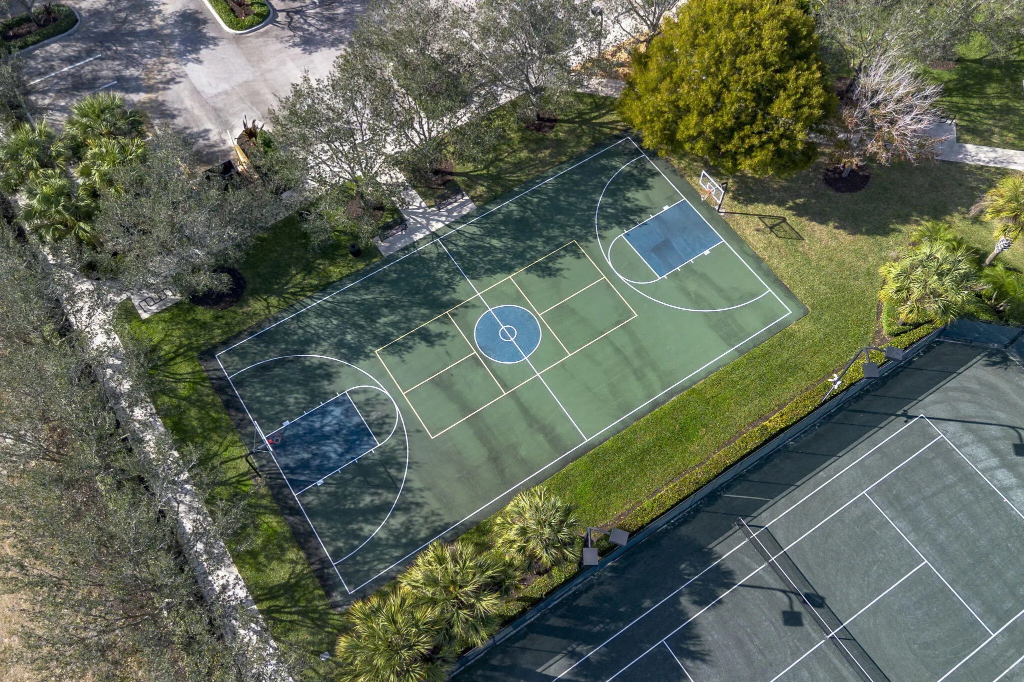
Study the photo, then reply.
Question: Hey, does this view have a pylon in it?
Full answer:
No, no pylon is visible in the scene.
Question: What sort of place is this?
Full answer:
The picture captures a sports ground.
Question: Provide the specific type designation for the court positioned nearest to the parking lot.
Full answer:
Looking closely, the court positioned nearest to the parking lot is a basketball court.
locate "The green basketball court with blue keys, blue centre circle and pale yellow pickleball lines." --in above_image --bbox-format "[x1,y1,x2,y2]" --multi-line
[198,127,809,613]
